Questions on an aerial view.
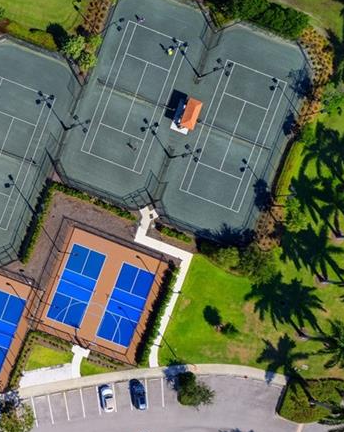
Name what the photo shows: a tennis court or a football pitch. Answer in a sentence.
It is a tennis court that can be seen here.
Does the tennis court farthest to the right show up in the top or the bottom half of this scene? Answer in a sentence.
It is in the top half that the tennis court farthest to the right appears.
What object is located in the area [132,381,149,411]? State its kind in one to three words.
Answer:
car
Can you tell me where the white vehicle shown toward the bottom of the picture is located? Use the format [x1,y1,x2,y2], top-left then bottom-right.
[102,387,117,414]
